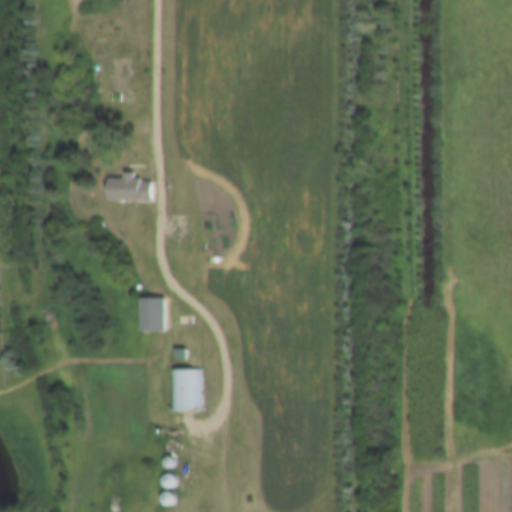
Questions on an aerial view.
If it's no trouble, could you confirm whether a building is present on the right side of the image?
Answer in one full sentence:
No, there's no building to be seen on the right side of the image.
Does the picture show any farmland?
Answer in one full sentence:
Yes, farmland can be seen from above here.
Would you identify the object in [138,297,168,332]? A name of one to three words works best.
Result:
shed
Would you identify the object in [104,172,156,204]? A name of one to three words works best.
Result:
house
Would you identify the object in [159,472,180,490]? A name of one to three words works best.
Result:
silo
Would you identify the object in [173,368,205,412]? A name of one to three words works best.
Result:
barn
